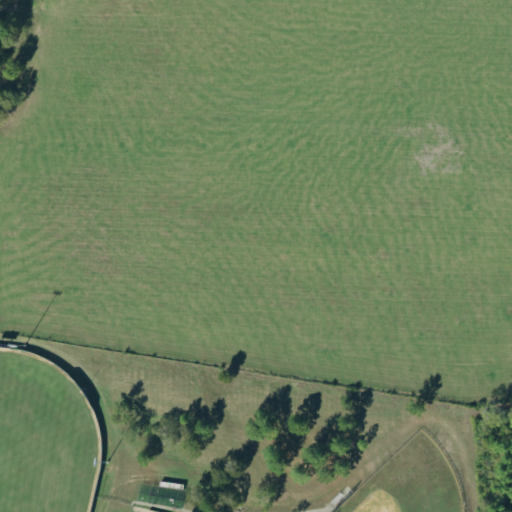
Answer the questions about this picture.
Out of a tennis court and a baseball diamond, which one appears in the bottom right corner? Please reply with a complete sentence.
You can see a baseball diamond in the bottom right corner.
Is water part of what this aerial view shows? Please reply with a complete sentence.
No, no water is visible.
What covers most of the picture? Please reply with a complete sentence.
What you mostly see from above here is grass.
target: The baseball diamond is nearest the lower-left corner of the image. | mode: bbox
[0,348,102,512]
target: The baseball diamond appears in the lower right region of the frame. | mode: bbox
[332,430,464,512]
